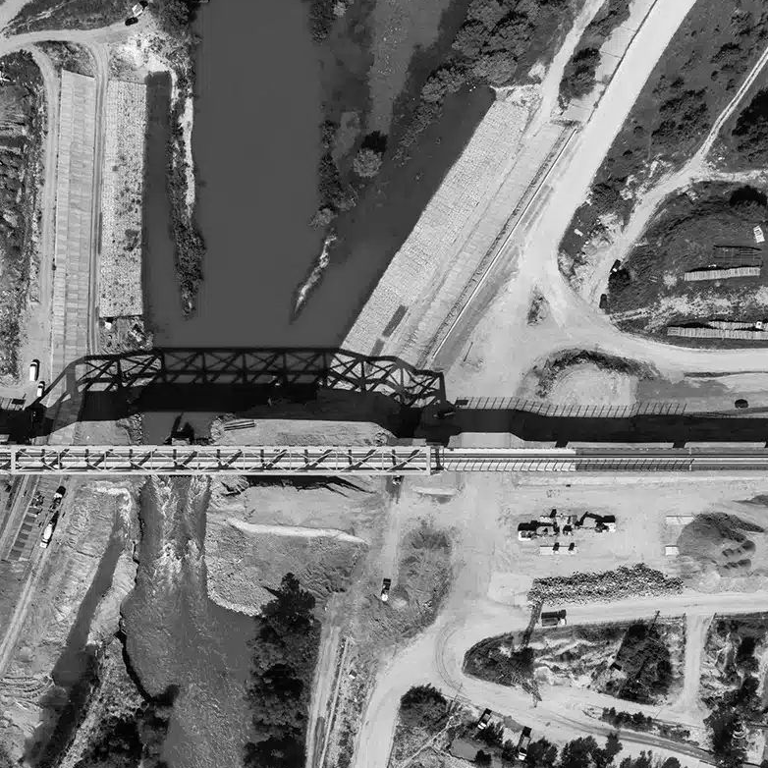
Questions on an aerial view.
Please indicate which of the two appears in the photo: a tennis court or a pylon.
pylon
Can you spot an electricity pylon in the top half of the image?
No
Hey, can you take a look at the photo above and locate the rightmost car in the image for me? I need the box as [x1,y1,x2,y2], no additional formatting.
[733,397,750,411]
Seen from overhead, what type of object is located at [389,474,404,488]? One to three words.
vehicle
